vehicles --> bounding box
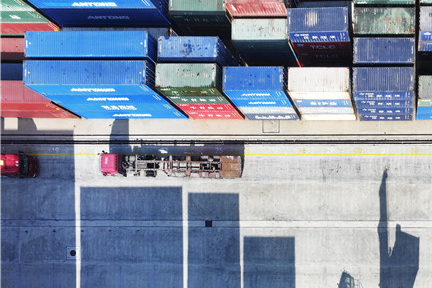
[102,151,243,179]
[0,154,45,180]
